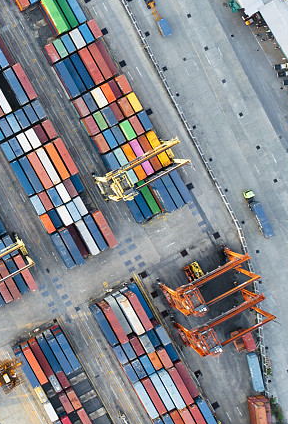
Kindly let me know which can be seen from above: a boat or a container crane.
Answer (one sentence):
It is a container crane that can be seen here.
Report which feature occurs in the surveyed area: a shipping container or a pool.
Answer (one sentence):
It is a shipping container that can be seen here.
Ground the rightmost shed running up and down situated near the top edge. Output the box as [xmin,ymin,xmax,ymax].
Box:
[254,0,288,72]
